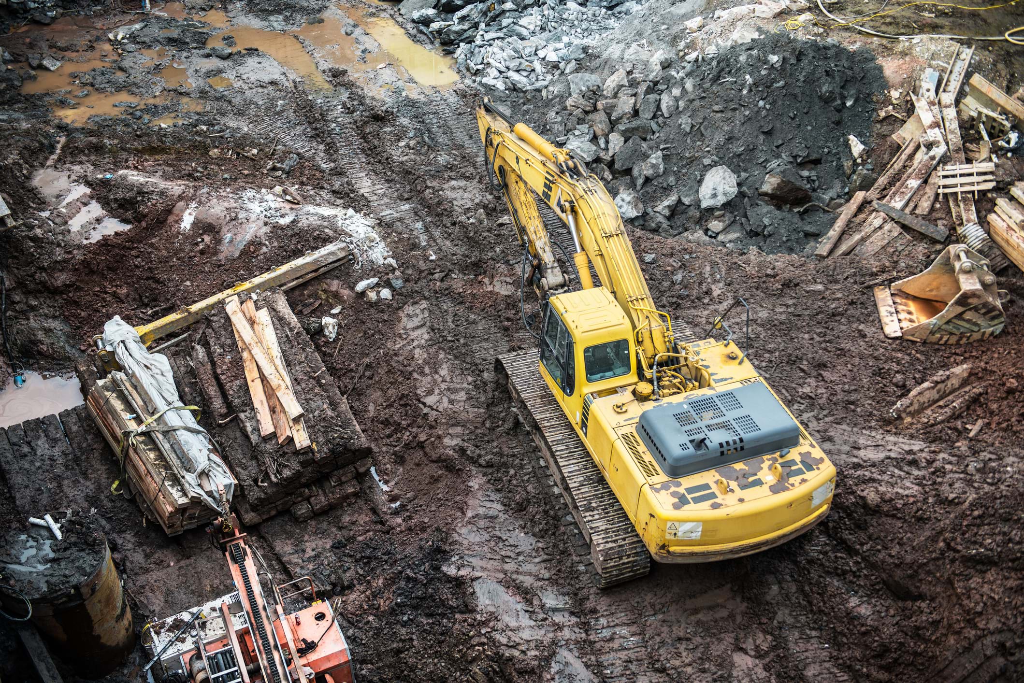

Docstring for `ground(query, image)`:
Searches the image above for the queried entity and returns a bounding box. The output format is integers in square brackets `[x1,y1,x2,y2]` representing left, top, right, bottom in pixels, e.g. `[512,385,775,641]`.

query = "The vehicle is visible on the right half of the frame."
[474,88,835,593]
